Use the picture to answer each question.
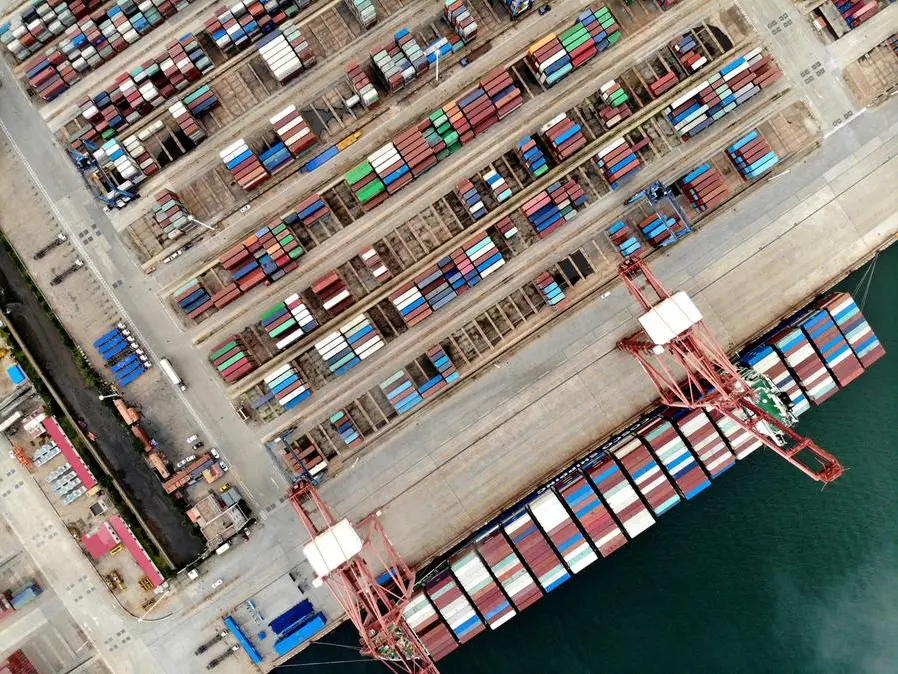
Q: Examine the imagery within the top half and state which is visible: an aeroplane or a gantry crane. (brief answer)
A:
gantry crane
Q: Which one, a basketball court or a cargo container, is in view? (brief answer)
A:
cargo container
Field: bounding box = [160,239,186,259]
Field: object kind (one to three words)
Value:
vehicle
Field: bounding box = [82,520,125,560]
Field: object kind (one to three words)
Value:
house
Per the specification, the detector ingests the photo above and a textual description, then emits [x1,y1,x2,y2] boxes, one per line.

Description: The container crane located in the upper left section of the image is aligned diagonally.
[56,133,133,206]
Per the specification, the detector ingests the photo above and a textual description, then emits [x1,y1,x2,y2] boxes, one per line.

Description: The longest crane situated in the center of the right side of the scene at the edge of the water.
[610,248,856,486]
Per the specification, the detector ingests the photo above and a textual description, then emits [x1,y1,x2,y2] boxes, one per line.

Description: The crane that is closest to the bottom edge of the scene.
[277,474,438,674]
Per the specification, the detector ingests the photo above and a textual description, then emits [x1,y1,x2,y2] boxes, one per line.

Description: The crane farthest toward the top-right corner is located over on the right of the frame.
[627,182,695,251]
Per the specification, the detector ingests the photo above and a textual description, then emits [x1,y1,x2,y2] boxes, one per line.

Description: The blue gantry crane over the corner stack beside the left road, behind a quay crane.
[263,428,326,497]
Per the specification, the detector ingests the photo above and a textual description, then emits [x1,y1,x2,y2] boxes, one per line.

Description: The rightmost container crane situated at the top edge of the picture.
[490,0,527,38]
